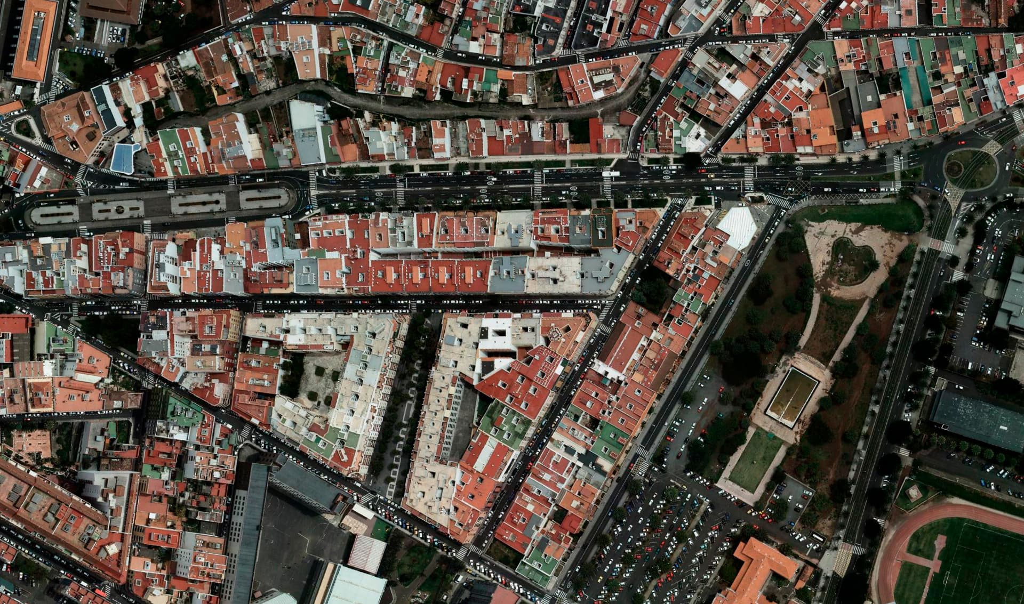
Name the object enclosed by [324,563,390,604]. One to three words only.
building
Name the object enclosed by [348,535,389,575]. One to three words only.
building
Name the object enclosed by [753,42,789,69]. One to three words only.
house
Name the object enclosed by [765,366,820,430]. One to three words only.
pond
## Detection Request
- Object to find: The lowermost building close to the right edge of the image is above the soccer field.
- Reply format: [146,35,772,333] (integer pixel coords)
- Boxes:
[930,390,1024,456]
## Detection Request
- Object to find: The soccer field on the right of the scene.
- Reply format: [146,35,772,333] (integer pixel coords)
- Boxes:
[892,517,1024,604]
